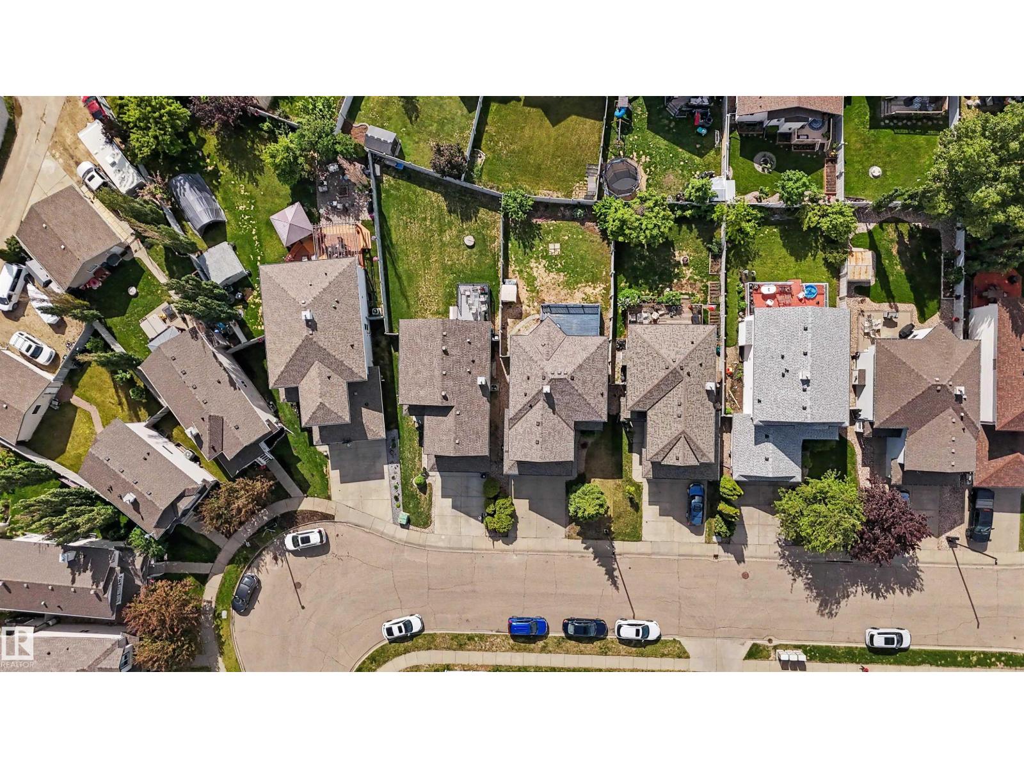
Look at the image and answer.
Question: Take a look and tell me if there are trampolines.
Yes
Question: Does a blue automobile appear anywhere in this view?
Yes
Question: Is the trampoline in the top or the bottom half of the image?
top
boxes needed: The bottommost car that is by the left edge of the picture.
[9,333,58,364]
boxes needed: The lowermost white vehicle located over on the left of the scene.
[380,613,425,641]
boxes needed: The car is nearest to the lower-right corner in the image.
[864,626,910,649]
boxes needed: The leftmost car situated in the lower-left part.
[234,570,262,613]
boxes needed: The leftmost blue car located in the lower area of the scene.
[508,615,548,637]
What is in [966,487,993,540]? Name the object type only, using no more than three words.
truck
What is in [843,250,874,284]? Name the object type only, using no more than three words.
shed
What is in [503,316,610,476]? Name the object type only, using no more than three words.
house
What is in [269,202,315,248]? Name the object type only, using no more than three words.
gazebo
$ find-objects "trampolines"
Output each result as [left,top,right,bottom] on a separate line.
[604,163,640,197]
